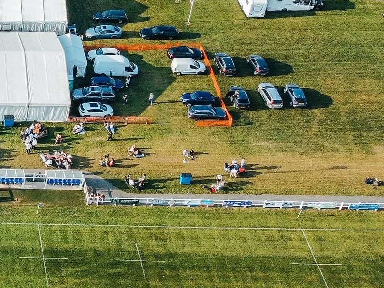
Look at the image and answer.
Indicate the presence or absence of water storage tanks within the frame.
No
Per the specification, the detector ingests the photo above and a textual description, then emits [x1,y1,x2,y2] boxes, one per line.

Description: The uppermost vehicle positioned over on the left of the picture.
[93,10,130,25]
